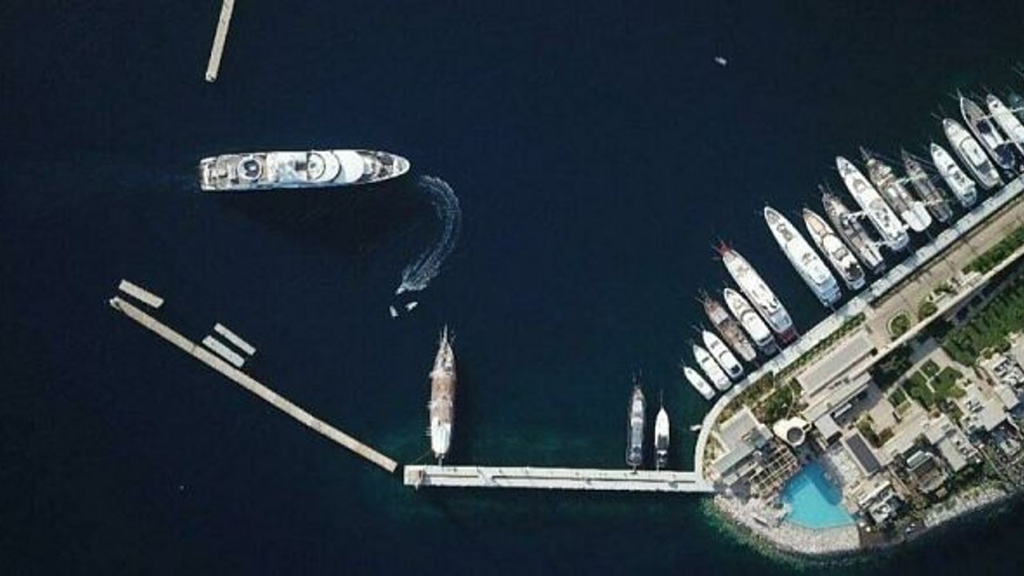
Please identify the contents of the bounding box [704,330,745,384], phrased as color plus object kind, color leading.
white boat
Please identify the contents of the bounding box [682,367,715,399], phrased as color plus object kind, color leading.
white boat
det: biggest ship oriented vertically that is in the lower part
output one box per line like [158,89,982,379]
[429,322,457,464]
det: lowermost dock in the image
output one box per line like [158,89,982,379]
[404,465,694,493]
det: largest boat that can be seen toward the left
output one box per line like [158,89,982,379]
[200,149,409,190]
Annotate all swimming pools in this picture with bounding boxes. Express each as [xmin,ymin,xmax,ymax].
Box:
[783,462,856,530]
